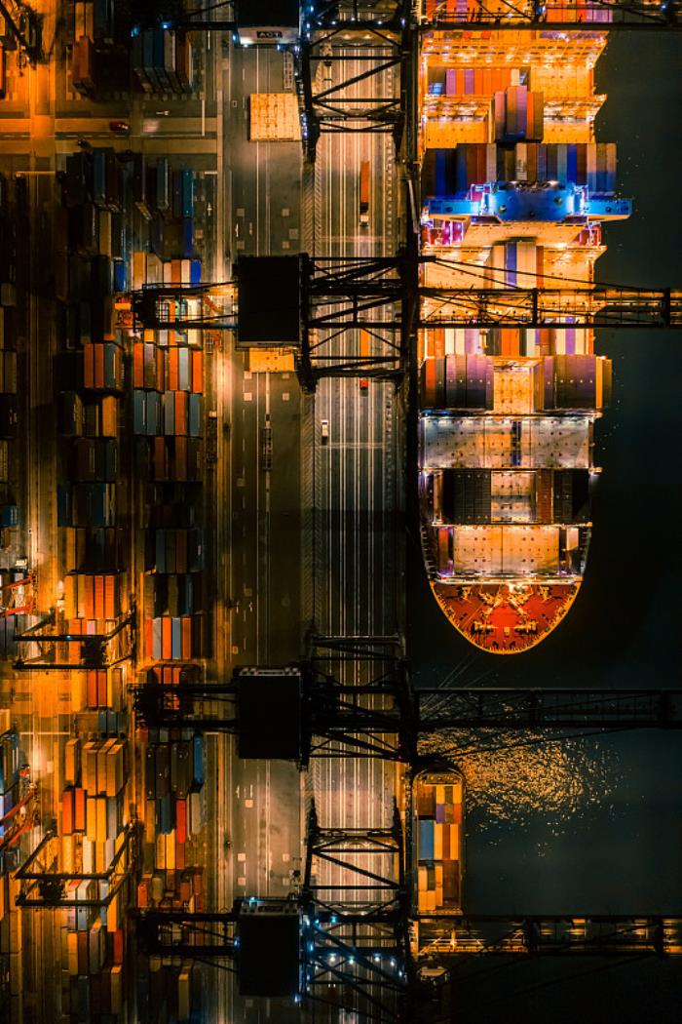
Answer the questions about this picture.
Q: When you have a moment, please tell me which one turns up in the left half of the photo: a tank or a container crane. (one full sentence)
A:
What appears in the left half of the photo is a container crane.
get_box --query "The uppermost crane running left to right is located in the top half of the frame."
[116,0,682,159]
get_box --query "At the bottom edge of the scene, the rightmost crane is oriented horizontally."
[116,798,682,1024]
